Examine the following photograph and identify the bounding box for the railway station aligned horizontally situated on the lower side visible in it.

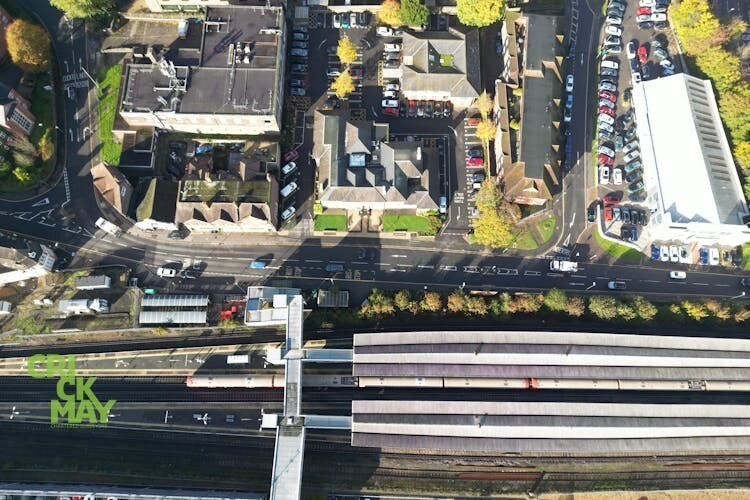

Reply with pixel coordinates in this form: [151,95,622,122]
[0,331,750,451]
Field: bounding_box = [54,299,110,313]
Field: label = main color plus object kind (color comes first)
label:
white vehicle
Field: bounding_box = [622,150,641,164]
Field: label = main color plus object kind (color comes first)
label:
white vehicle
